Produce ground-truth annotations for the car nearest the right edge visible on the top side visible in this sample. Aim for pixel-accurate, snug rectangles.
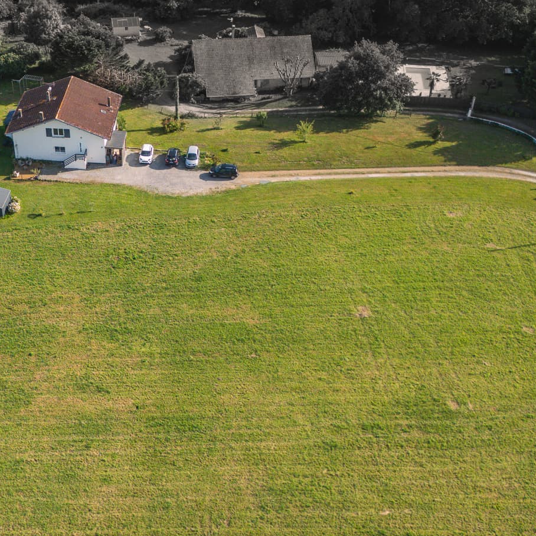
[207,161,240,178]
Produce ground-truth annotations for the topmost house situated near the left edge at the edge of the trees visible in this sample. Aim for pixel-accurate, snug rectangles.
[4,76,128,166]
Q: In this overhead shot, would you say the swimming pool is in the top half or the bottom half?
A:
top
